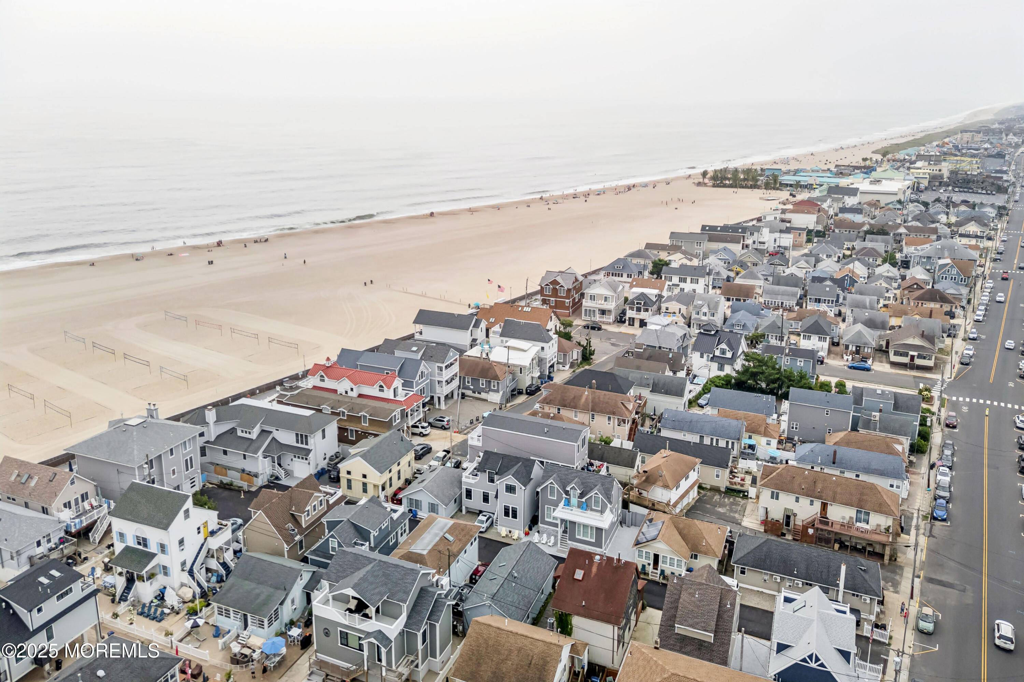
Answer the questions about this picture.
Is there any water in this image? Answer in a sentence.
Yes, the picture does contain water.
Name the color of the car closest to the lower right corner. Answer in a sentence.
The color of the car closest to the lower right corner is white.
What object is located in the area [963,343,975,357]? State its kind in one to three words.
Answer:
vehicle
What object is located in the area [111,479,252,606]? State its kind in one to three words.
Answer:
house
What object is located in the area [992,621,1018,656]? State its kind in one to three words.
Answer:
car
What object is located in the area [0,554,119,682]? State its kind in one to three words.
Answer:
house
